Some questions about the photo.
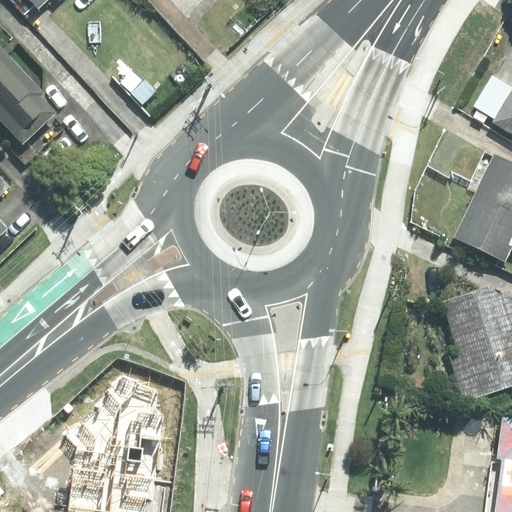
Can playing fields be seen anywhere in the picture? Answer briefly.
No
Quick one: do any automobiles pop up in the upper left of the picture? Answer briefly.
Yes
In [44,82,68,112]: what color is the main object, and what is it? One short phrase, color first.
white car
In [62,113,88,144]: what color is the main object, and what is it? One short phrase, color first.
white car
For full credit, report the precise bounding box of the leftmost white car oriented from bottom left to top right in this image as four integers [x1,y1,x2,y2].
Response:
[6,208,33,236]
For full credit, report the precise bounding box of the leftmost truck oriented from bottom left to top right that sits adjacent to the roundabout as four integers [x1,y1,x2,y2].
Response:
[120,220,155,251]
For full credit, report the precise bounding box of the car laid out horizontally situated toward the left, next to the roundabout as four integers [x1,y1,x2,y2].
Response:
[132,290,166,308]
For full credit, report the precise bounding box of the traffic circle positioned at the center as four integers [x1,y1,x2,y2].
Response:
[155,132,364,320]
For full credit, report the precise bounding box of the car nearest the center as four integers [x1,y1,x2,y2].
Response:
[228,288,252,321]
